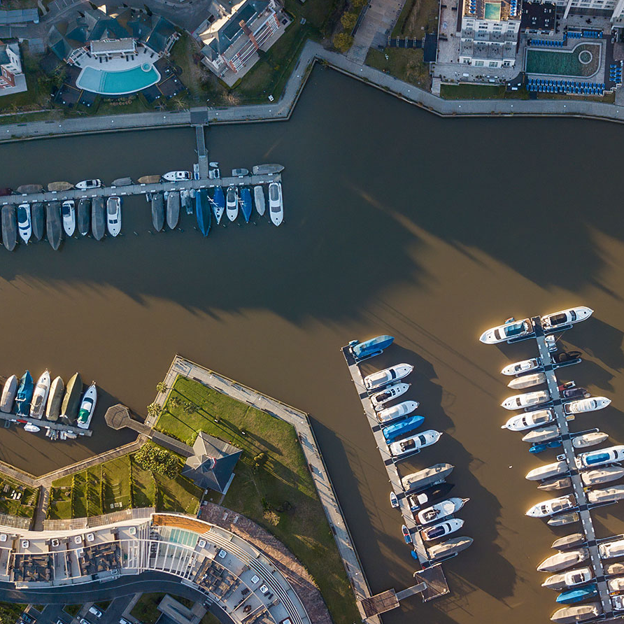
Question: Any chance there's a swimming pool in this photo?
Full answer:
Yes, a swimming pool is visible in the scene.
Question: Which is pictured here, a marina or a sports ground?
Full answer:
It's a marina.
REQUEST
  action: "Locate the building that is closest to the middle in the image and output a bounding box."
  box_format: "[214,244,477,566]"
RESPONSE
[181,433,243,497]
